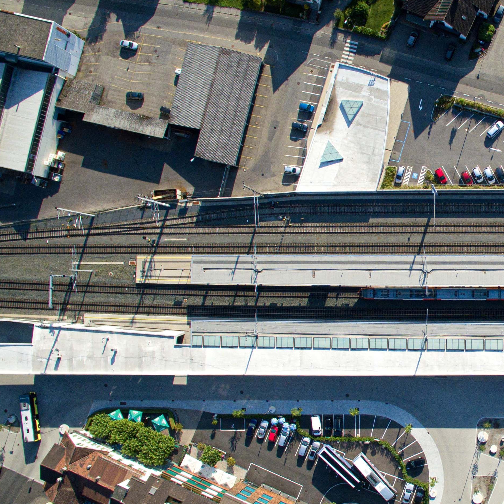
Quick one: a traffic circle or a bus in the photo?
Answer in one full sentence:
It is a bus that can be seen here.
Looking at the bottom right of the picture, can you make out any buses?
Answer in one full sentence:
Yes, a bus can be seen at the bottom right of the picture.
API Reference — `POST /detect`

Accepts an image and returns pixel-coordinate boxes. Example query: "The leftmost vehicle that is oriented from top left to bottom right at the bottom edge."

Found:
[316,444,365,492]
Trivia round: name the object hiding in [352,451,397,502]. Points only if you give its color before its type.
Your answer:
white bus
